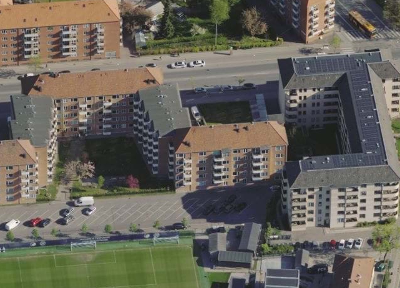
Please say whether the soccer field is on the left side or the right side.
left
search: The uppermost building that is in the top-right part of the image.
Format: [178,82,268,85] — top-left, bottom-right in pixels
[251,0,336,41]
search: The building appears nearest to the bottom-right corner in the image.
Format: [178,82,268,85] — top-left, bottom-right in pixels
[329,252,374,288]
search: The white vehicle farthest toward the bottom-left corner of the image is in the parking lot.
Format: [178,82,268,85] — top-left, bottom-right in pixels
[5,218,20,232]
